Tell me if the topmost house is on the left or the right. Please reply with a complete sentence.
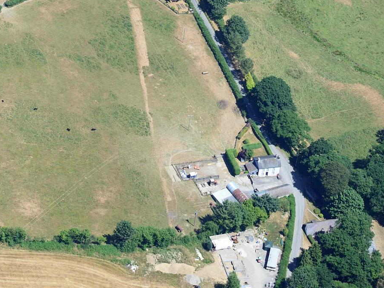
The topmost house appears in the right half of the scene.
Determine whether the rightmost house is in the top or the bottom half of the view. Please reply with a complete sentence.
The rightmost house is in the bottom half of the image.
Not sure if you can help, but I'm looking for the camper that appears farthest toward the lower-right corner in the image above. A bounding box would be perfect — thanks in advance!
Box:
[266,248,280,272]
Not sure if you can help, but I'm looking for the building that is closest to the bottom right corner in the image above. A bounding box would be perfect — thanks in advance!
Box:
[302,217,329,239]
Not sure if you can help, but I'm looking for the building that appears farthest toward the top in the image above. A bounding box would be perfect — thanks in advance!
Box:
[244,151,283,178]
